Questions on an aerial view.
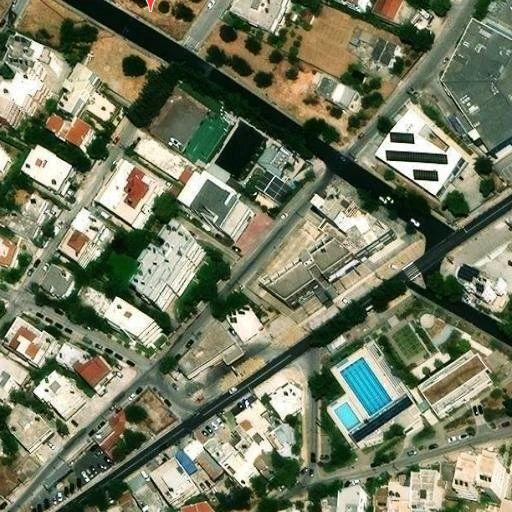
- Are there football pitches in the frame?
Yes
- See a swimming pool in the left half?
No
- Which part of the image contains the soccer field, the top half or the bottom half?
bottom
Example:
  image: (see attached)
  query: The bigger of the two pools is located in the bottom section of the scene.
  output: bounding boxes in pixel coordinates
[330,347,404,417]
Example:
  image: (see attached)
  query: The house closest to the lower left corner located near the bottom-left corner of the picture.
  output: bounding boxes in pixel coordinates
[7,404,58,456]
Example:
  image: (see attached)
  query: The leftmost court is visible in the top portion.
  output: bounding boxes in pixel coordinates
[152,94,204,151]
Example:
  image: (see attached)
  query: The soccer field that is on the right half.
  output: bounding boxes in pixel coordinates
[386,318,434,372]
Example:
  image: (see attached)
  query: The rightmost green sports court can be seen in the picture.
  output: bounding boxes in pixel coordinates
[184,112,230,164]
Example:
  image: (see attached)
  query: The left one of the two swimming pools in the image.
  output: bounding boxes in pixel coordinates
[327,394,365,440]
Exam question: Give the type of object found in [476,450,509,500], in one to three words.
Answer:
building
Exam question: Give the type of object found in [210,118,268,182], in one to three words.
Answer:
sports court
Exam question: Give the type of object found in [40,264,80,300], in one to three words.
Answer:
house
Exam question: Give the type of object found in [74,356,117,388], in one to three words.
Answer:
house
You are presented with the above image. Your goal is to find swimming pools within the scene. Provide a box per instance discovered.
[330,347,404,417]
[327,394,365,440]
